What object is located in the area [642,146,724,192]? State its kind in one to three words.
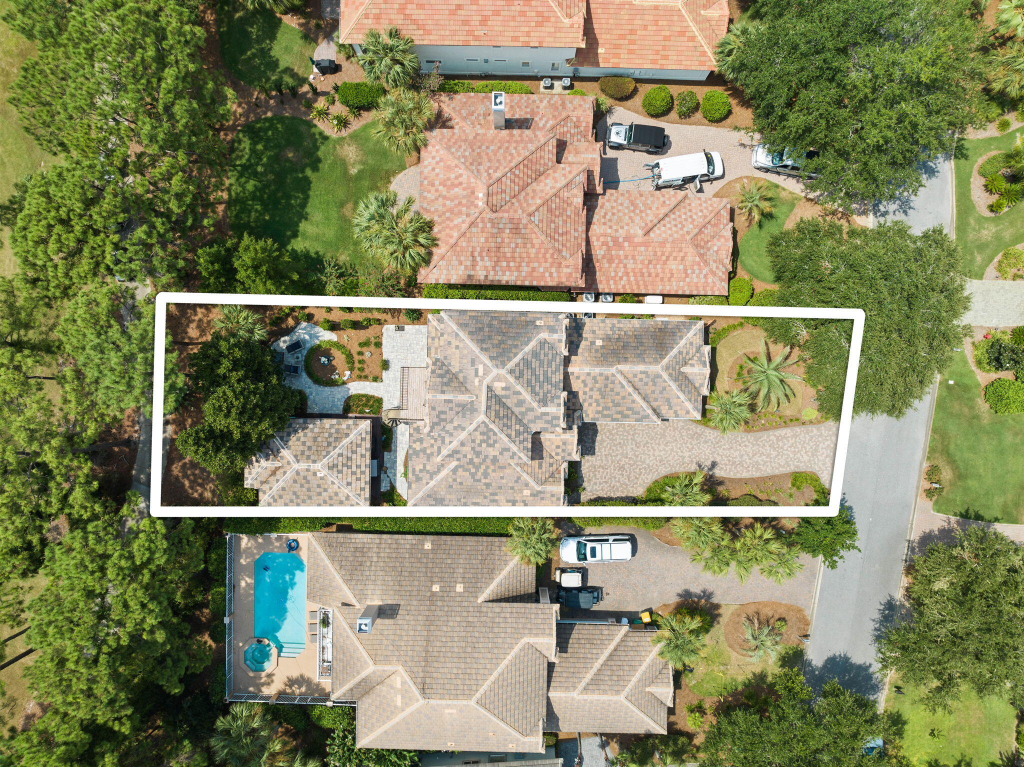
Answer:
van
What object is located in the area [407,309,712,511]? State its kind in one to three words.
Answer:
house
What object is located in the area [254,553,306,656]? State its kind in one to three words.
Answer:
swimming pool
